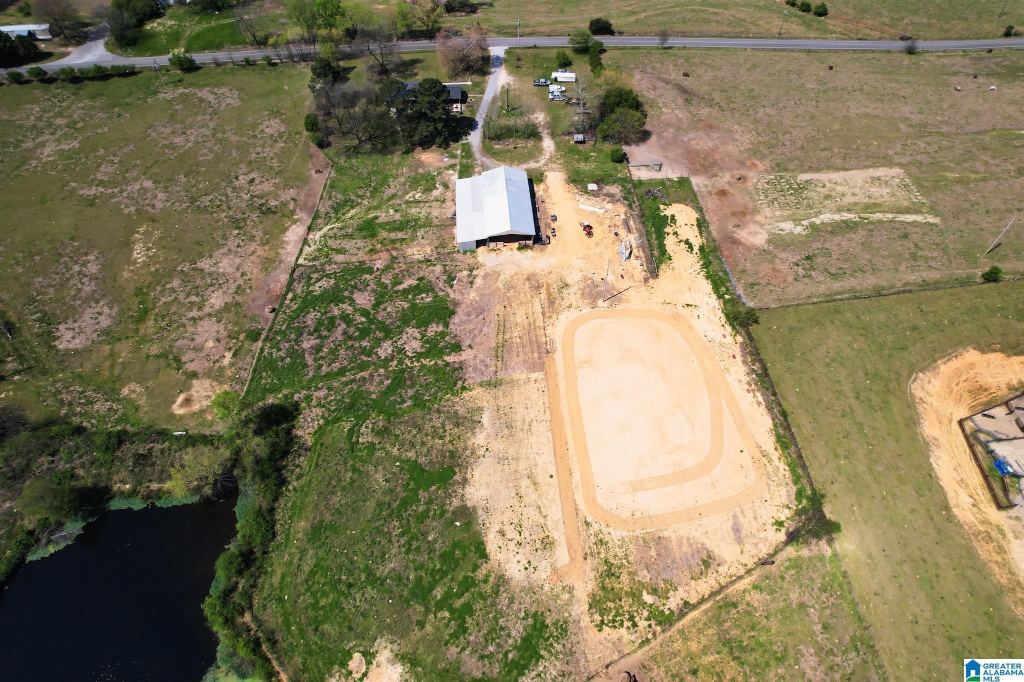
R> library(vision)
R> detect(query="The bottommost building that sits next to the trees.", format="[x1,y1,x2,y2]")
[452,163,535,251]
